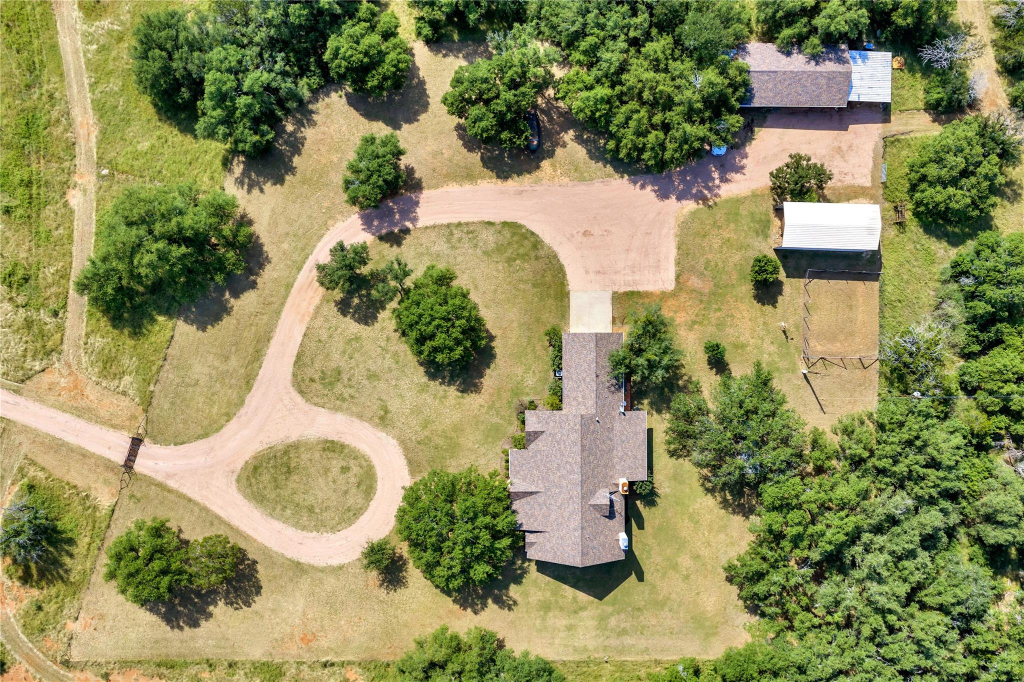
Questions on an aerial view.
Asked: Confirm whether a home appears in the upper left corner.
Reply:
No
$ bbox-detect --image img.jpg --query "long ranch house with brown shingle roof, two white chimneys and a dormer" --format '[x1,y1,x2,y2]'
[509,333,648,567]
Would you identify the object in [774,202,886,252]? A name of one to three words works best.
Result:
shed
